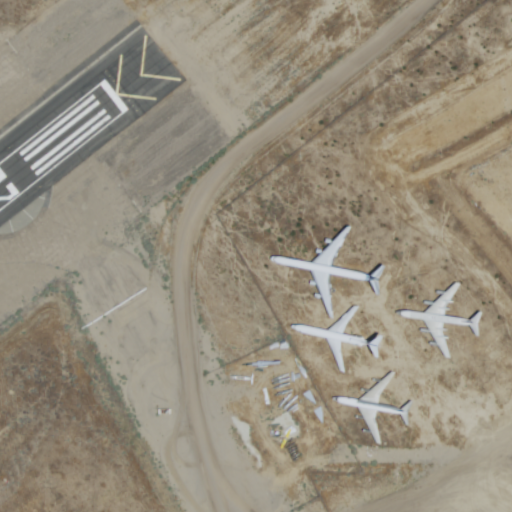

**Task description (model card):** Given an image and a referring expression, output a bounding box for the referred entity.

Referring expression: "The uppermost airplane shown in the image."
[271,226,385,318]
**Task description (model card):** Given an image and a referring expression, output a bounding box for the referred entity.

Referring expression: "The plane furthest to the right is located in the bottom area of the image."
[398,282,482,358]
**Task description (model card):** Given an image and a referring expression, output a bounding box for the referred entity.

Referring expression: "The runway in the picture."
[0,20,186,234]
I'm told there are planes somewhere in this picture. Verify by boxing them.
[333,373,414,446]
[242,358,281,368]
[398,282,482,358]
[271,226,385,318]
[292,306,383,373]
